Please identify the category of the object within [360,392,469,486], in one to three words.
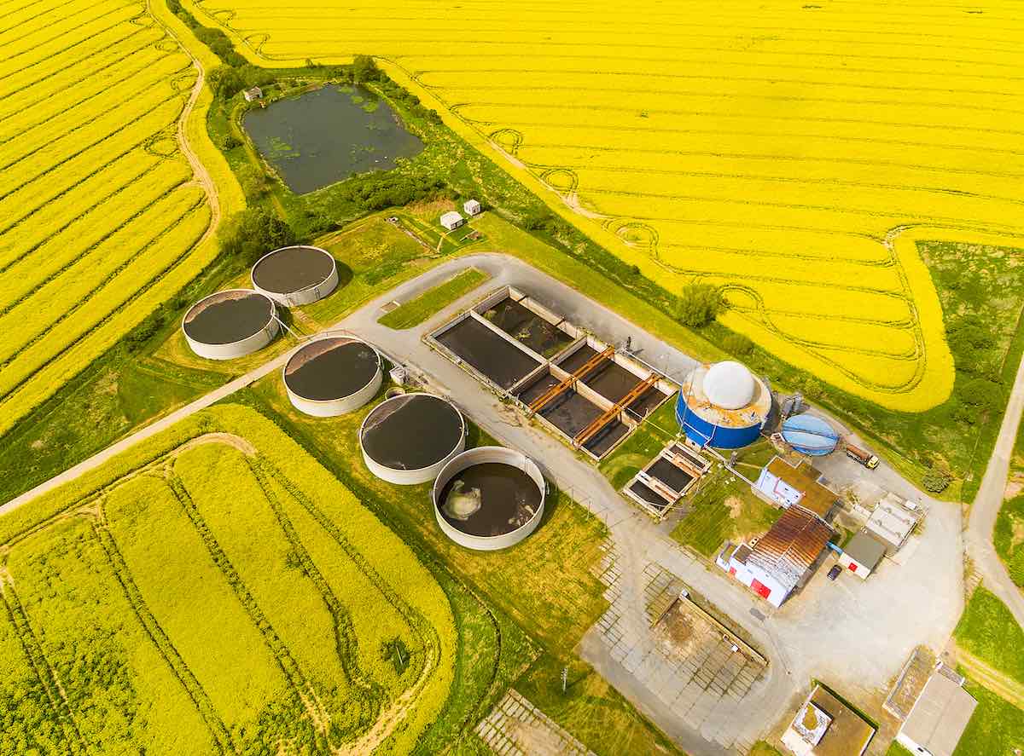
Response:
storage tank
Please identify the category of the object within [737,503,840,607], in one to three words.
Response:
barn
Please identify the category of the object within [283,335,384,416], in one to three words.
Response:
storage tank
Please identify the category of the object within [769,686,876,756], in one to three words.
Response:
house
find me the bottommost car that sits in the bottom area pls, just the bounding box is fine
[827,566,843,581]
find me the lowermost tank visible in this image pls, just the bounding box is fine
[433,446,549,553]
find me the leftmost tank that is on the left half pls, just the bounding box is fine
[183,289,280,360]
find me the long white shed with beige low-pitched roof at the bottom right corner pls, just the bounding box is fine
[892,659,979,756]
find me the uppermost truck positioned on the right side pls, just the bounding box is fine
[845,445,881,473]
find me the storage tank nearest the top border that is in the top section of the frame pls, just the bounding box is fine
[252,245,339,308]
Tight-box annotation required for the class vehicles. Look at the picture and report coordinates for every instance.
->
[845,445,881,473]
[827,566,843,581]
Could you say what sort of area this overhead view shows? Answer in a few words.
industrial area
